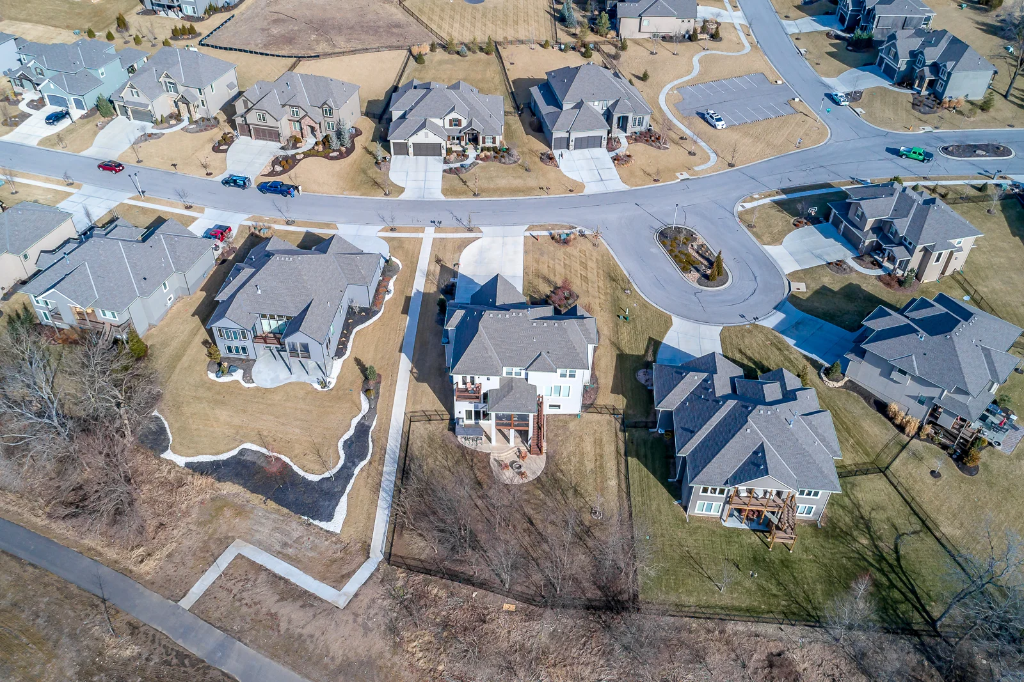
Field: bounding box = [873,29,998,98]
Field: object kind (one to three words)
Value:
house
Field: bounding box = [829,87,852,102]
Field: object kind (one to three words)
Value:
vehicle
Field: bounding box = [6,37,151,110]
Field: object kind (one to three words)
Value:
house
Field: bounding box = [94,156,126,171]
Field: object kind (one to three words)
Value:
car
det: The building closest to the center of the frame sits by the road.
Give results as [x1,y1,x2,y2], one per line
[440,272,599,453]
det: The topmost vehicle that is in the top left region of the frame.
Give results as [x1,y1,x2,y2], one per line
[43,105,71,122]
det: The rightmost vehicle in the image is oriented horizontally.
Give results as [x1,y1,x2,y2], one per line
[899,145,936,160]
